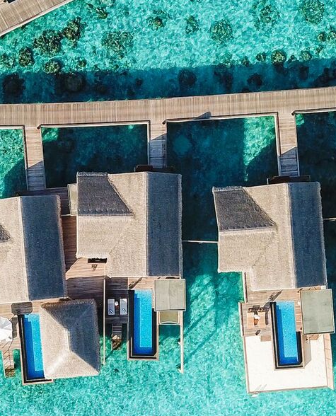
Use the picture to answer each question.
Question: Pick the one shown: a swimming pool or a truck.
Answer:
swimming pool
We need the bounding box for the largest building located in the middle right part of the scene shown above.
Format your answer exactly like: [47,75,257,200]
[212,175,325,292]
